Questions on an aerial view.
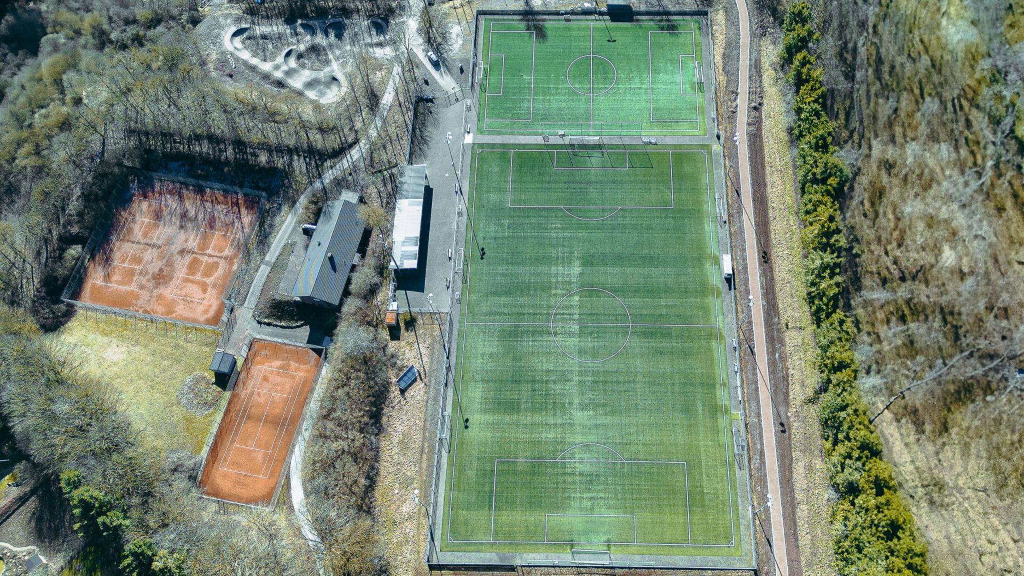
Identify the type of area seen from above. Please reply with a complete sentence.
The picture captures a sports ground.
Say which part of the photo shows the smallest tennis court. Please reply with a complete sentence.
The smallest tennis court appears toward the bottom left of the photo.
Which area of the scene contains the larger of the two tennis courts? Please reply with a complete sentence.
The larger of the two tennis courts appears toward the left of the photo.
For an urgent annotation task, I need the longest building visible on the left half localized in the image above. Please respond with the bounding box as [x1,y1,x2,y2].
[291,194,373,309]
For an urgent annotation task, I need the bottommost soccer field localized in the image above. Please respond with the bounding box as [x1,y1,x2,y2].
[440,144,742,557]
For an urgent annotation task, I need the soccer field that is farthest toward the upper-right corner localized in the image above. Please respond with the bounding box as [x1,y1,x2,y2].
[477,18,707,136]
